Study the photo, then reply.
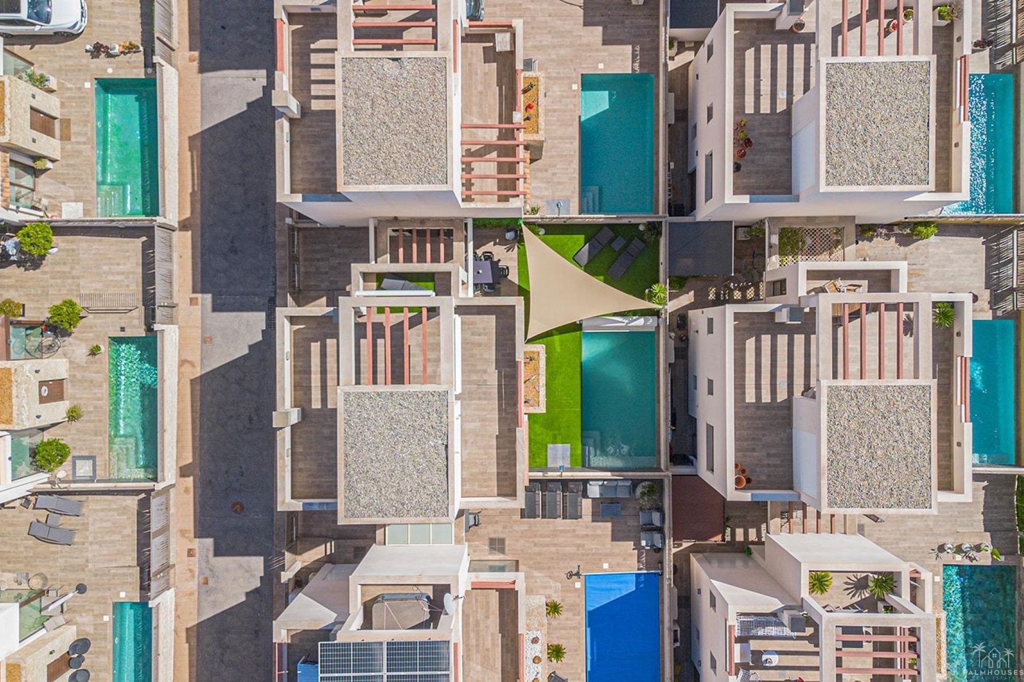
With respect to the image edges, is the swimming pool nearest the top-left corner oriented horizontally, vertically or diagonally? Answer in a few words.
vertically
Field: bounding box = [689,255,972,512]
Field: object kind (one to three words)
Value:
house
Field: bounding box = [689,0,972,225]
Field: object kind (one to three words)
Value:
house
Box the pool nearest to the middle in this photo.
[580,329,657,467]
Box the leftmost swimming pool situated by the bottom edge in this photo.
[110,600,156,682]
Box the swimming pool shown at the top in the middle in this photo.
[579,71,656,215]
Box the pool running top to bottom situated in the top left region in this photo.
[93,76,156,216]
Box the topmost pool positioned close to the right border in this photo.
[939,71,1015,215]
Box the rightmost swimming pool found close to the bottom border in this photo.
[941,563,1014,682]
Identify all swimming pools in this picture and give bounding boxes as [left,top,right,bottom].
[579,71,656,215]
[583,571,662,682]
[580,329,657,467]
[960,318,1015,462]
[941,563,1014,682]
[93,76,156,216]
[939,71,1015,215]
[110,600,156,682]
[106,334,156,477]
